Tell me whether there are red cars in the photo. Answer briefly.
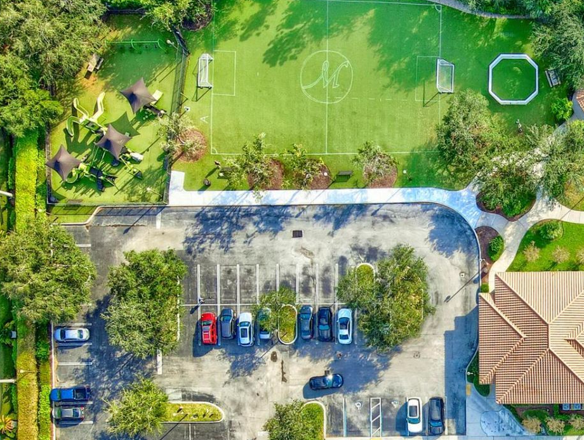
Yes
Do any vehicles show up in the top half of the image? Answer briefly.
No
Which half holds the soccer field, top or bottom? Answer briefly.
top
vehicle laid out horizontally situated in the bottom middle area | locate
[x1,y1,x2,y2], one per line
[307,372,343,390]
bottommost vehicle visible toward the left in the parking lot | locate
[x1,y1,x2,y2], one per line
[50,406,82,421]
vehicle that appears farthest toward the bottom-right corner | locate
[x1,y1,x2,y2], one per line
[426,397,442,434]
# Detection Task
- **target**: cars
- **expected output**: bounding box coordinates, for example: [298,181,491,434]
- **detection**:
[314,306,331,340]
[253,306,271,340]
[334,308,351,342]
[296,304,313,338]
[426,397,442,434]
[196,313,214,344]
[50,406,82,421]
[307,372,343,390]
[404,397,421,434]
[52,325,87,341]
[233,312,252,346]
[215,307,233,340]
